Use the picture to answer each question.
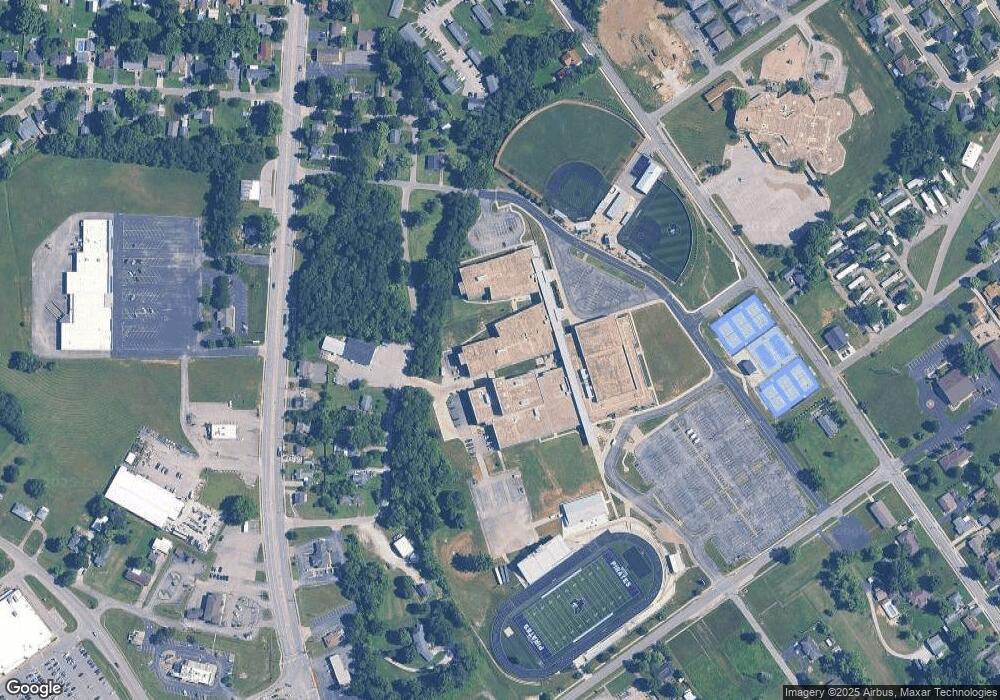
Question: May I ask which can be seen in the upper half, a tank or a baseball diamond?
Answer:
baseball diamond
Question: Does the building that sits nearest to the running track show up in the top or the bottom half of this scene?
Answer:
bottom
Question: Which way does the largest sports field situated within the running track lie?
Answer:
on a diagonal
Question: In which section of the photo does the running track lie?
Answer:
bottom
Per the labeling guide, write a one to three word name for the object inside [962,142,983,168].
building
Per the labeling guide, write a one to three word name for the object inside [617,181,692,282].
baseball field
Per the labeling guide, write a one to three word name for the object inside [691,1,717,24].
house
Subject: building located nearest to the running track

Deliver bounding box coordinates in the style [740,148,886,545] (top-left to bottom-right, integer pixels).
[562,492,609,530]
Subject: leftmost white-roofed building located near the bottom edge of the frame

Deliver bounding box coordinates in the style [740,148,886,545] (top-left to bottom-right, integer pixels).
[0,590,55,674]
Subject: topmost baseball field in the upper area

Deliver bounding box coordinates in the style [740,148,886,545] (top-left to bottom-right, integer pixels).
[494,101,645,223]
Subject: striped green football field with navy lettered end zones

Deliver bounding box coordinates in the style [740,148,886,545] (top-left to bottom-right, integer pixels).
[516,551,641,662]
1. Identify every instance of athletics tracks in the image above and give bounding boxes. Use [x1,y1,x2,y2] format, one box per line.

[489,529,665,680]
